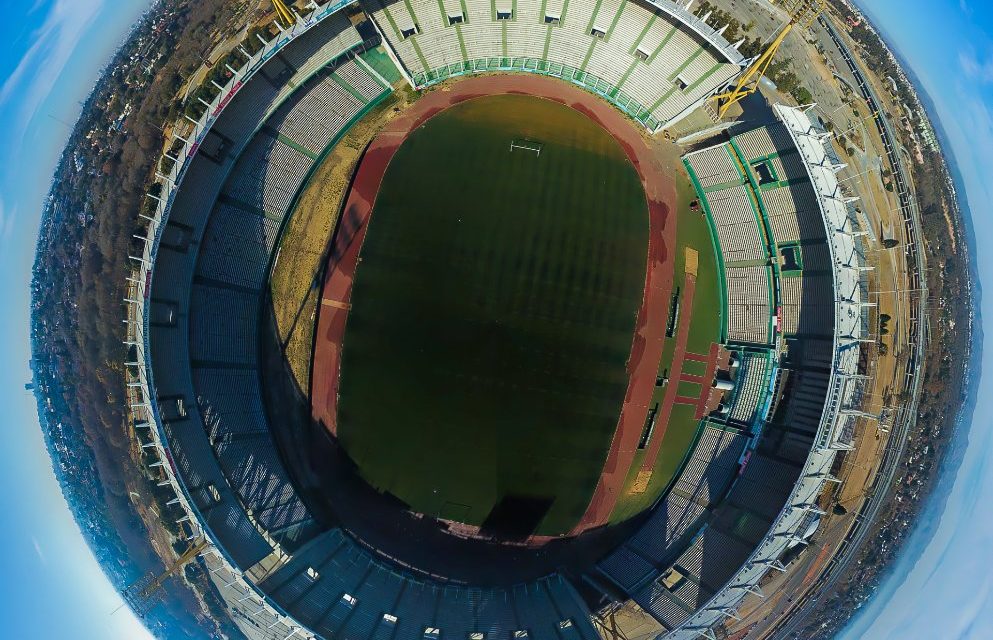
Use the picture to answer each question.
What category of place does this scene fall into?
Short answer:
sports ground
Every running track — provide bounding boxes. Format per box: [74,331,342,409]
[308,73,677,571]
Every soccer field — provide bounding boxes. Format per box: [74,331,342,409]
[336,95,651,540]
